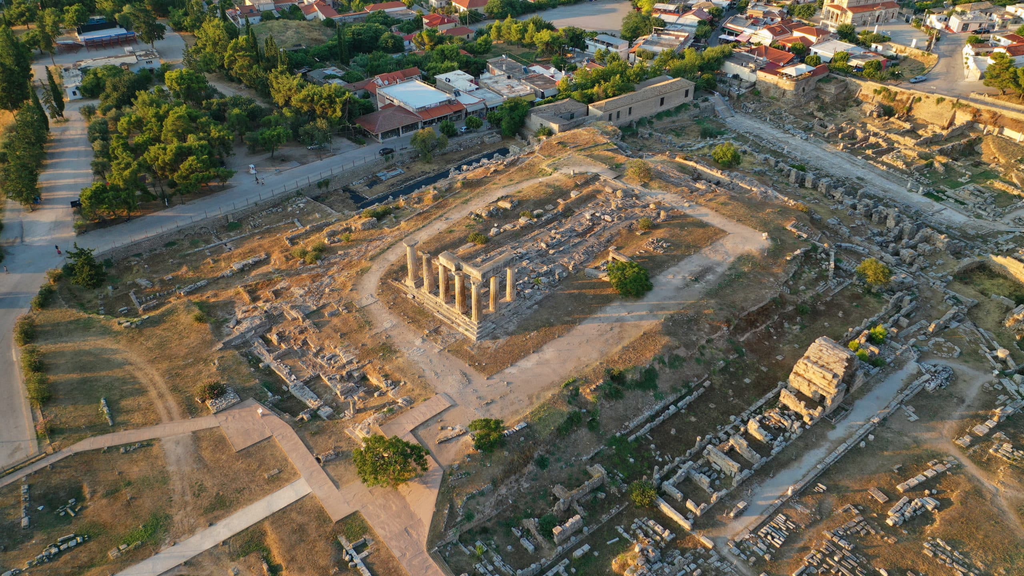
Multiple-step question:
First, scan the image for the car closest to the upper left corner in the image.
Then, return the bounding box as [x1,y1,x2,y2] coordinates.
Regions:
[63,194,84,207]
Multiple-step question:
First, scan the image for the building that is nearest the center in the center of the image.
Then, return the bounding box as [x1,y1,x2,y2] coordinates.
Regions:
[391,241,592,344]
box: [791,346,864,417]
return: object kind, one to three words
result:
building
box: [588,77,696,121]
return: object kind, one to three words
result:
building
